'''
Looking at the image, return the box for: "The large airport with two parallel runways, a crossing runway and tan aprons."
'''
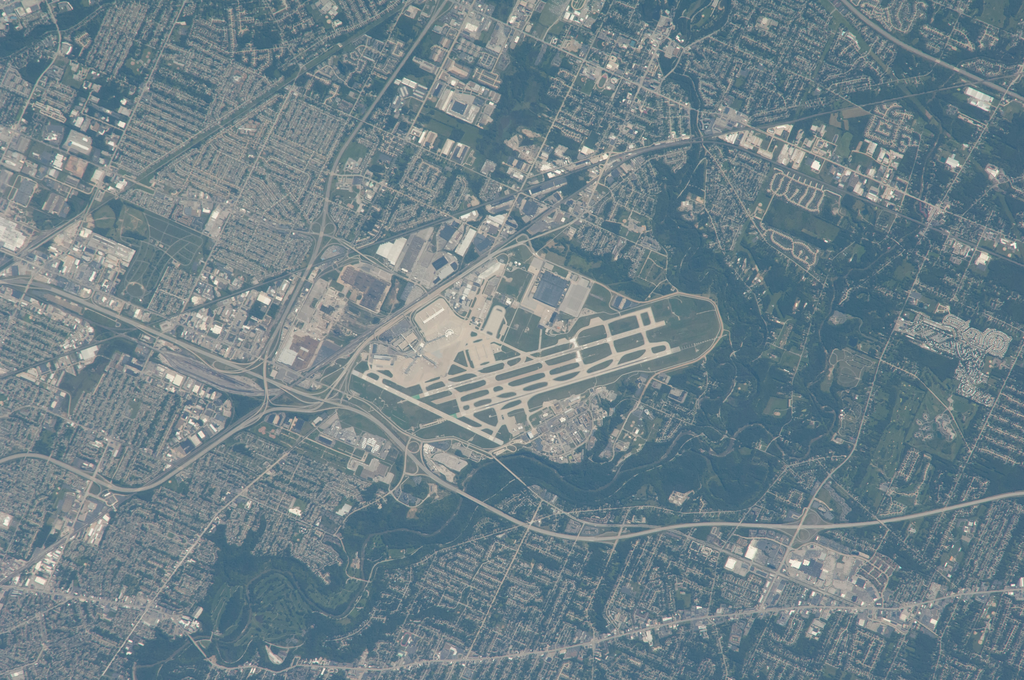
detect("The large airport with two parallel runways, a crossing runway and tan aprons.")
[347,255,720,446]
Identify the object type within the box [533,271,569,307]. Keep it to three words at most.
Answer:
building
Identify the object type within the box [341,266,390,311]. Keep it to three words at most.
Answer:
building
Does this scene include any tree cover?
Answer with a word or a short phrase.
Yes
